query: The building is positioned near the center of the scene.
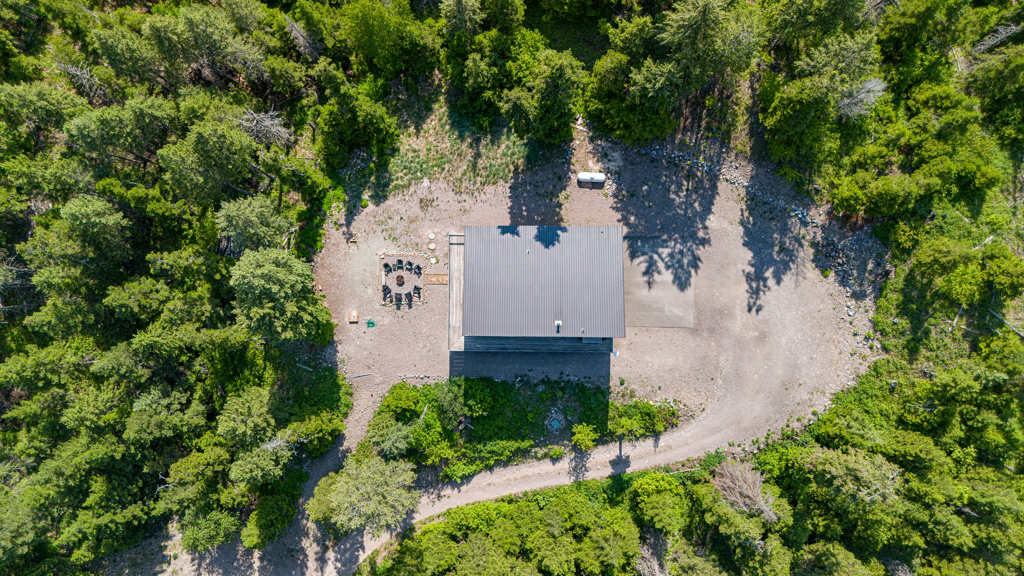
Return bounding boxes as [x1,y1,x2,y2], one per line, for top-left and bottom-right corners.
[463,225,626,338]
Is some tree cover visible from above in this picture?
Yes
